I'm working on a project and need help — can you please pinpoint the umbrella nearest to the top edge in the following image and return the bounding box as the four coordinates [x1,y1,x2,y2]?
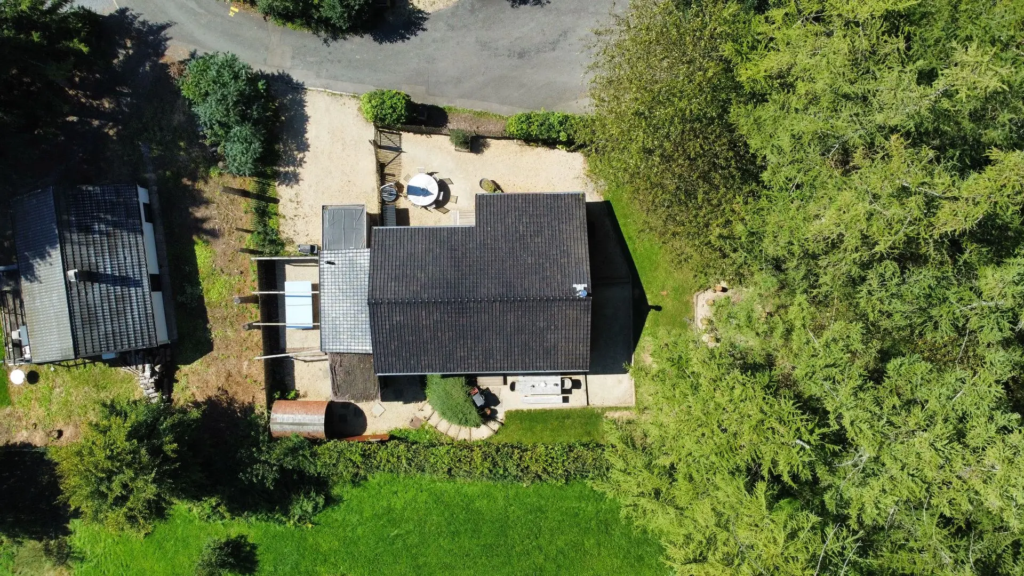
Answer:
[380,181,409,201]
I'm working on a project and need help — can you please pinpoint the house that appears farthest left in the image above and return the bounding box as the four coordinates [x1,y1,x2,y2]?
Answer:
[9,182,172,364]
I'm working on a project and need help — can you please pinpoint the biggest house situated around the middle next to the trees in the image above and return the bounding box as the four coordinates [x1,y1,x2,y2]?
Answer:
[366,191,593,374]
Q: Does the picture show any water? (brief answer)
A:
No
